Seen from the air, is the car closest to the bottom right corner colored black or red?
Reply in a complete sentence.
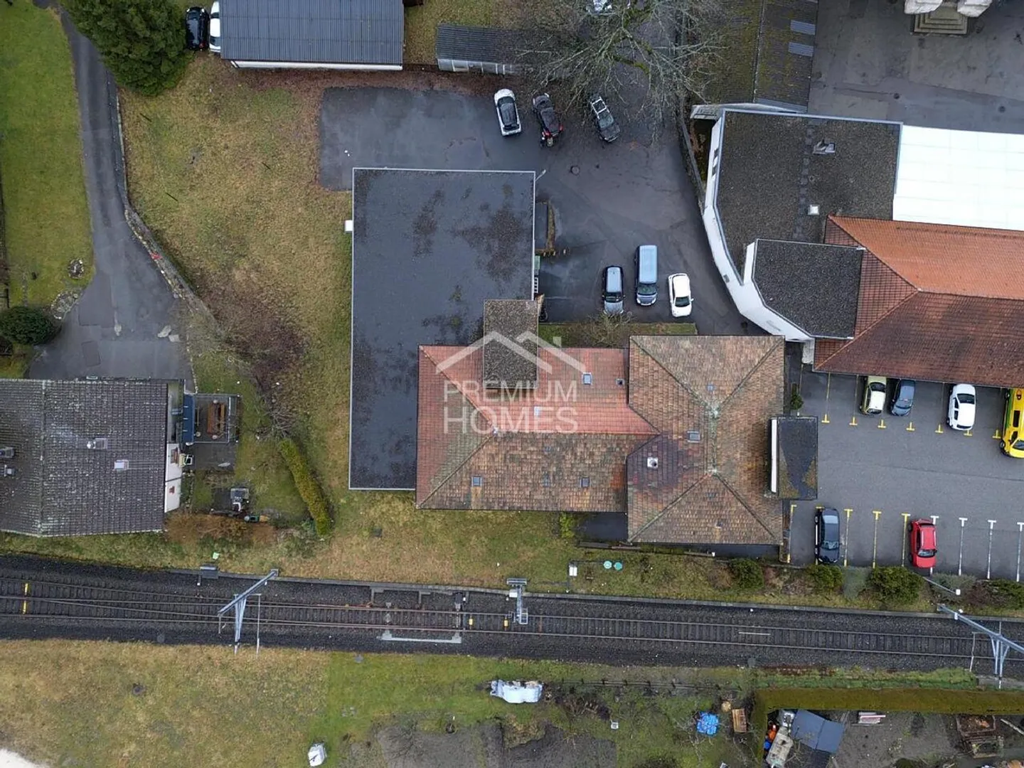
From above, the car closest to the bottom right corner appears red.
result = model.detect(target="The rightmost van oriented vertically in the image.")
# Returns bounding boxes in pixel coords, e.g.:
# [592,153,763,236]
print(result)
[996,388,1024,457]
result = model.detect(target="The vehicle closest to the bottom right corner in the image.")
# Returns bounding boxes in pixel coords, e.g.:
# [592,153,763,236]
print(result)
[907,518,939,567]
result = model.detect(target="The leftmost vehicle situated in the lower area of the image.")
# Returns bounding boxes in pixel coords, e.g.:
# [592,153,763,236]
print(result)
[813,506,844,562]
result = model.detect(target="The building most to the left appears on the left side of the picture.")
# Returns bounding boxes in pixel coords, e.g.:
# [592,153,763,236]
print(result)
[0,378,185,537]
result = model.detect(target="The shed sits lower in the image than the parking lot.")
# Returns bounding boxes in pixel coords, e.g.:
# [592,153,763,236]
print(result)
[788,708,844,752]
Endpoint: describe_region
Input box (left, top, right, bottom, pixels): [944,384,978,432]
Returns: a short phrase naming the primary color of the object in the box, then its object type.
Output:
white car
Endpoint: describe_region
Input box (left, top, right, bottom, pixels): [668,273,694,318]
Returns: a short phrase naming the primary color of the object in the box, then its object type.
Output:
white car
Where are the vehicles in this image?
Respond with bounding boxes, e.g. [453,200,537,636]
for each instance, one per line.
[907,518,939,567]
[547,138,552,154]
[668,273,694,318]
[944,384,978,432]
[996,388,1024,457]
[533,93,561,141]
[184,7,209,53]
[204,3,219,55]
[859,376,889,416]
[632,244,660,306]
[888,379,918,418]
[494,89,521,138]
[602,265,626,314]
[813,506,844,562]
